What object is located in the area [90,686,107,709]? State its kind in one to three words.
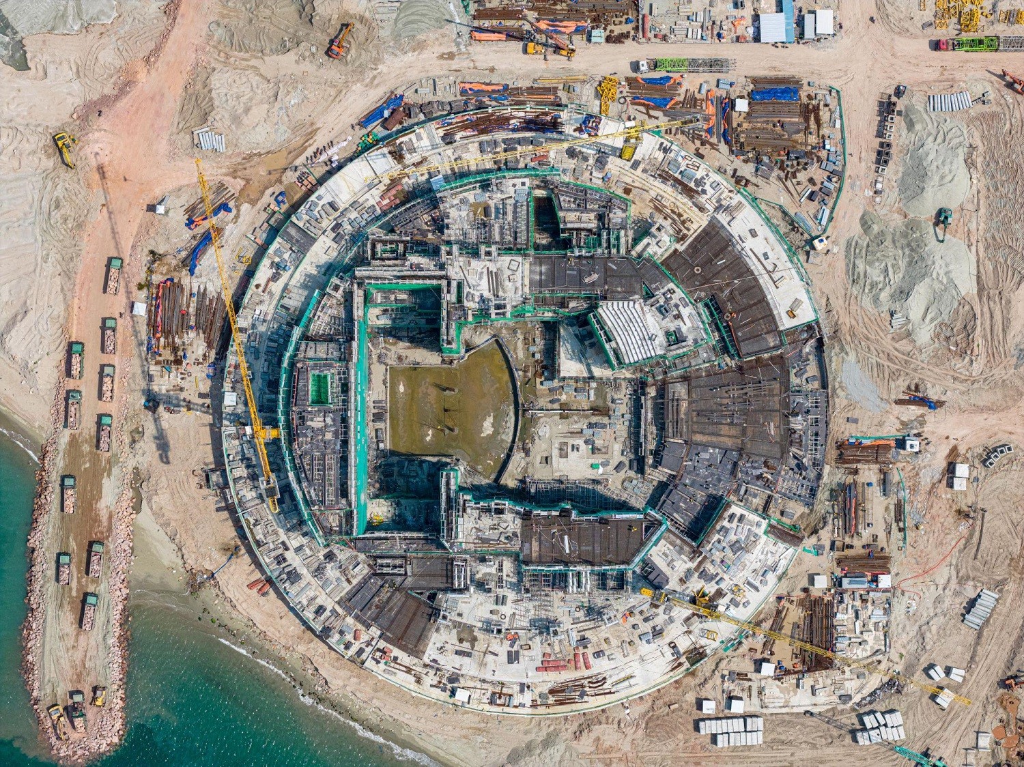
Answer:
work vehicle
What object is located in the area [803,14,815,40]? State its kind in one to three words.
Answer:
building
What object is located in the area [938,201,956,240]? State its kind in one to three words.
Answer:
work vehicle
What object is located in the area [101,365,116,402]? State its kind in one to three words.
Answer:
vehicle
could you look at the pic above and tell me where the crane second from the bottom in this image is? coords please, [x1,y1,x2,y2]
[638,579,971,705]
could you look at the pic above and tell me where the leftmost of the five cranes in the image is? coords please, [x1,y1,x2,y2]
[194,159,282,514]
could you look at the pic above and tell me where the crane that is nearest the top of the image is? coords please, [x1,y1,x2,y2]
[516,13,577,64]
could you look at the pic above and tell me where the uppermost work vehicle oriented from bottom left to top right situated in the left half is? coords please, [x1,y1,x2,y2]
[324,22,354,61]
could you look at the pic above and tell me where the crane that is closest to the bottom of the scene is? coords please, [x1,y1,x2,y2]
[893,745,951,767]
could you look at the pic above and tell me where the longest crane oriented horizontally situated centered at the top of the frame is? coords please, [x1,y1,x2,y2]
[364,112,712,181]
